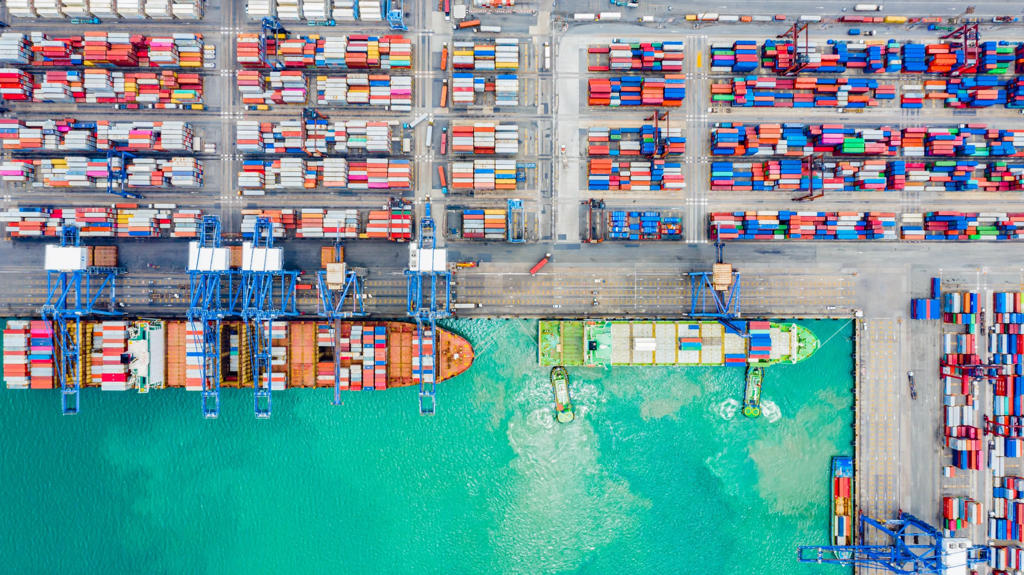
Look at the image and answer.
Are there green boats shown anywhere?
Yes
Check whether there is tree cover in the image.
No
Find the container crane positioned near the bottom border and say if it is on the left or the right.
right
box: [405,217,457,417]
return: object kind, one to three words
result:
container crane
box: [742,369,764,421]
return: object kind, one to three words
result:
boat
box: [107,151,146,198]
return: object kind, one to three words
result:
container crane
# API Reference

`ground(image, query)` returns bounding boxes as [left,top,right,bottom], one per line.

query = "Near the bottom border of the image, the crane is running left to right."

[796,508,992,575]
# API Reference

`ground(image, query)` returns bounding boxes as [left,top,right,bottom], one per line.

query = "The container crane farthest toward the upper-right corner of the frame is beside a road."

[938,24,980,76]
